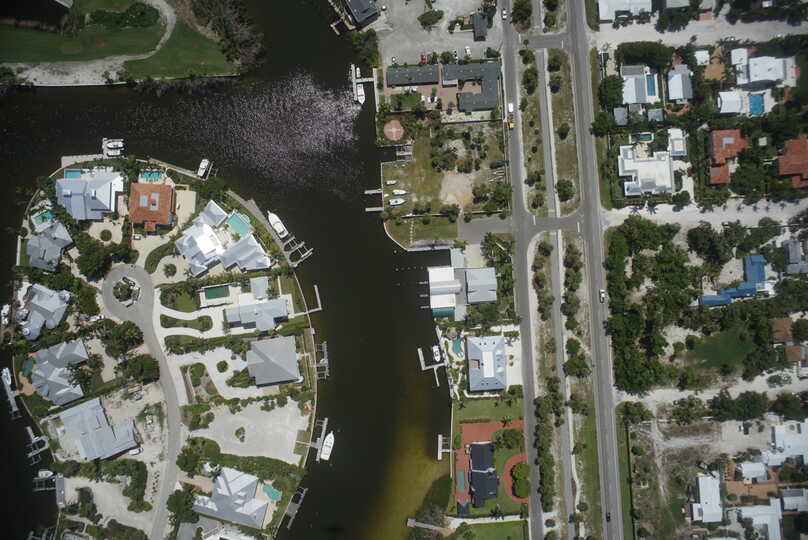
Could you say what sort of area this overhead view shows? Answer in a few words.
residential area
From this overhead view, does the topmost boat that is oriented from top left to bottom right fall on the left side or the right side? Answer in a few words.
left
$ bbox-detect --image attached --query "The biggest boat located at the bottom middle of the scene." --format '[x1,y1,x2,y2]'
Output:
[320,433,333,462]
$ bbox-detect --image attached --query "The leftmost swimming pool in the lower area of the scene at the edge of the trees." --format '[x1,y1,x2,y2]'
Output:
[21,358,34,377]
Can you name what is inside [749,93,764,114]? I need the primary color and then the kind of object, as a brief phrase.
blue swimming pool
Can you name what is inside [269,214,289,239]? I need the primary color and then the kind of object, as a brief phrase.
white boat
